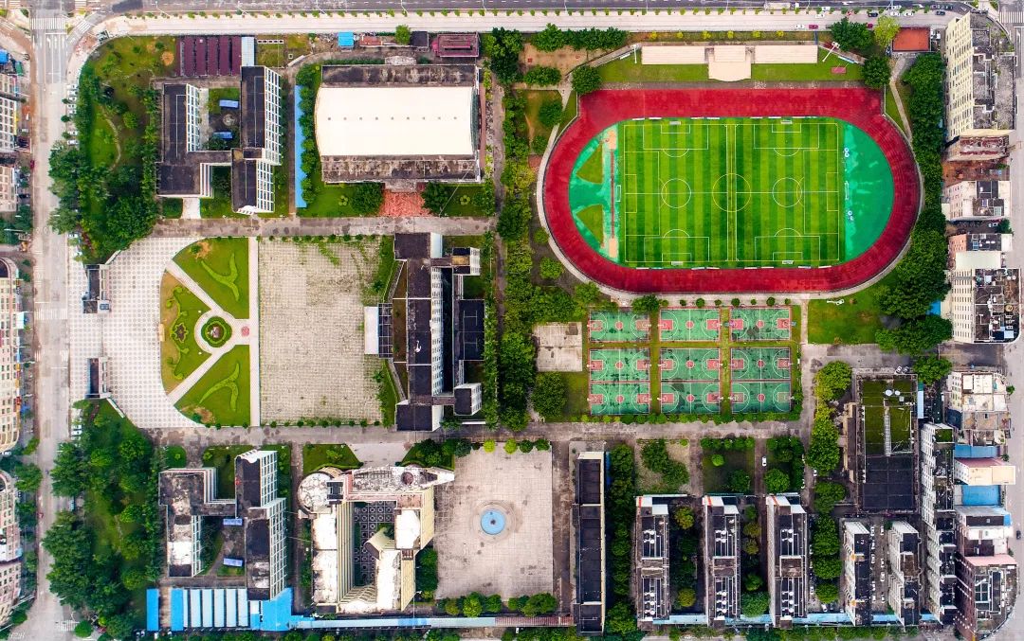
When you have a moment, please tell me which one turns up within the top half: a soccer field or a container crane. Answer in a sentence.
You can see a soccer field within the top half.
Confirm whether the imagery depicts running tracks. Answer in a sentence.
Yes, the photo shows a running track.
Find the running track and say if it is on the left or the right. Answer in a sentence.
You can find the running track on the right side of the picture.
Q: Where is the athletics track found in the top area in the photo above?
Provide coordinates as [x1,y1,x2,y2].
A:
[536,81,925,299]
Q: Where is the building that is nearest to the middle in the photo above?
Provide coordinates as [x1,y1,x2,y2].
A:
[365,233,488,431]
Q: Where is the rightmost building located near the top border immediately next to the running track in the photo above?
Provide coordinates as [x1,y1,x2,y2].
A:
[946,10,1015,166]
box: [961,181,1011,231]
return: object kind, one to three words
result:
house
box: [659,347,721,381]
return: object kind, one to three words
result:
basketball court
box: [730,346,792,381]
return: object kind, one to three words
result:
basketball court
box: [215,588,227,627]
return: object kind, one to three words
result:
shed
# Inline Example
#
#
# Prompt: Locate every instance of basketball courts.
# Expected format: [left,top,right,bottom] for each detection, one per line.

[589,381,652,416]
[730,307,791,341]
[588,308,651,342]
[658,307,721,342]
[730,380,792,415]
[659,381,721,415]
[659,347,721,381]
[588,347,651,381]
[730,346,792,381]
